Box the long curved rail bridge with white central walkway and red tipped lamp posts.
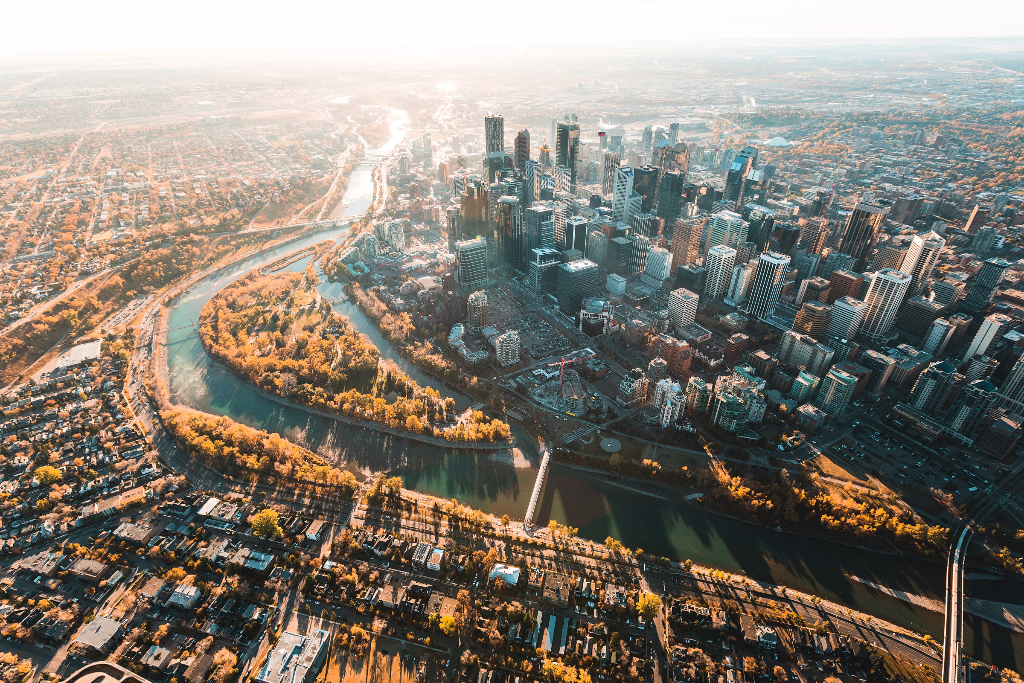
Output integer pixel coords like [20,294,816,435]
[941,501,987,683]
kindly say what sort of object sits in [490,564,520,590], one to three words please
house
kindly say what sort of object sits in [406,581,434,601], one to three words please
house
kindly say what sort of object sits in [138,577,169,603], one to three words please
building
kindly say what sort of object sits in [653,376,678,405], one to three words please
building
